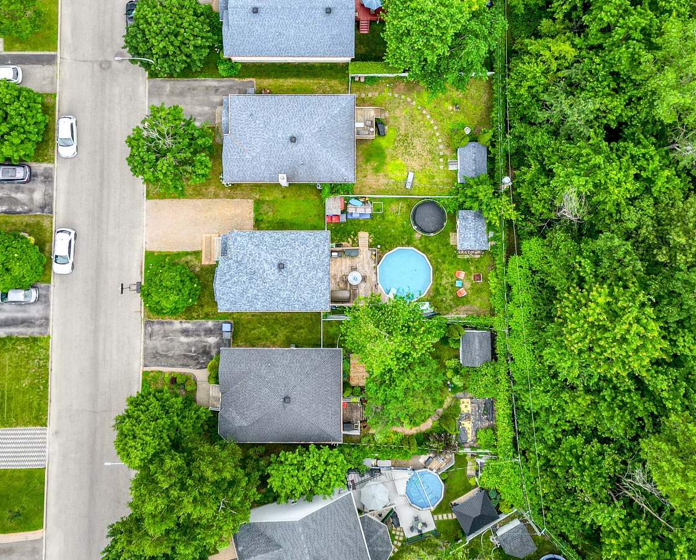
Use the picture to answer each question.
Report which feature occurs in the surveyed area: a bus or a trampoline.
trampoline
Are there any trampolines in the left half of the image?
No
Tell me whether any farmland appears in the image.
No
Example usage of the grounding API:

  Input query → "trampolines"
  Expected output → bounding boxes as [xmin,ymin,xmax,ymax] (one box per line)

[410,199,446,235]
[537,551,562,560]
